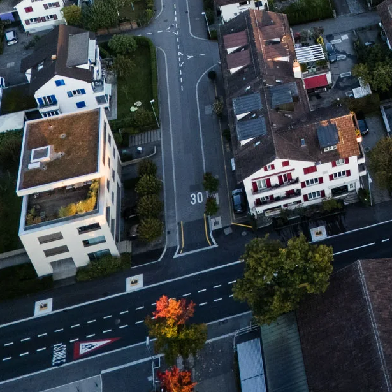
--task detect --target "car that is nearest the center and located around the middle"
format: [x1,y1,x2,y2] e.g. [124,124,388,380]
[228,188,246,215]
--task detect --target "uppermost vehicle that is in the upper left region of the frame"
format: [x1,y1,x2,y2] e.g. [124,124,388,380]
[4,29,18,47]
